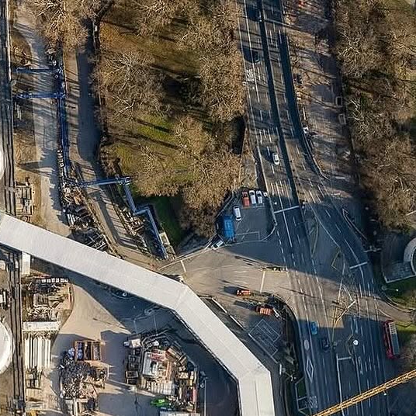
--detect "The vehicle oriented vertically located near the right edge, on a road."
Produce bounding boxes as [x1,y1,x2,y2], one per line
[386,315,401,360]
